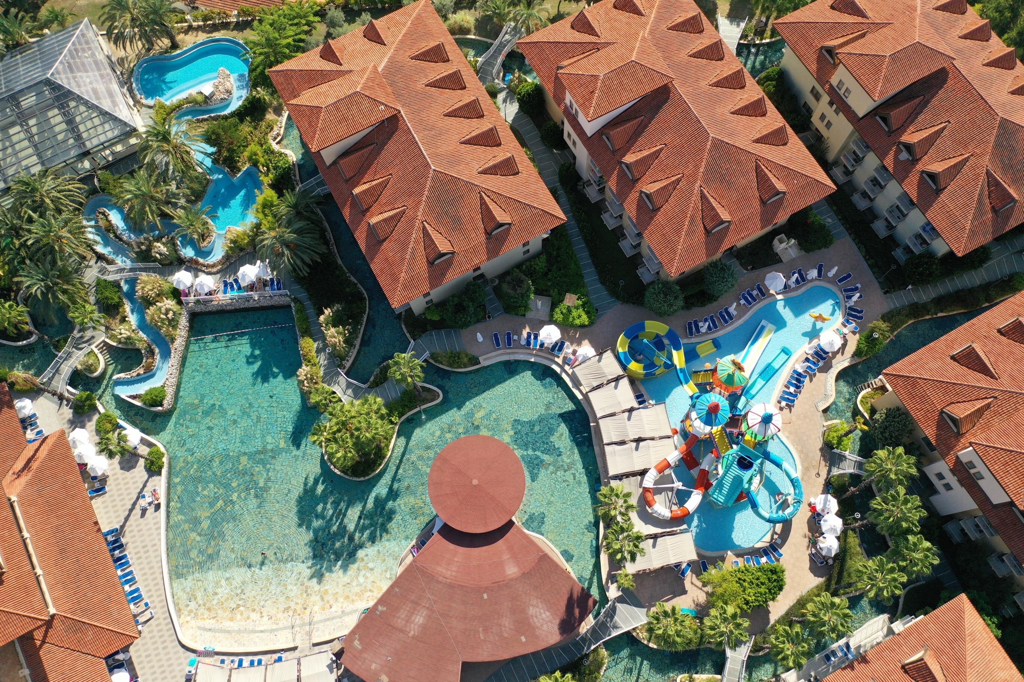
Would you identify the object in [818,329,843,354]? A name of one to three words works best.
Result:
umbrella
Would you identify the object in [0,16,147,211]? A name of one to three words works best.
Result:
building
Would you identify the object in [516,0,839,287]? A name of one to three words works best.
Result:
building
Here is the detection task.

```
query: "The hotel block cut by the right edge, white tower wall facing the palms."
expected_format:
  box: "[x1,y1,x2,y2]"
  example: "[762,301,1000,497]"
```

[870,293,1024,645]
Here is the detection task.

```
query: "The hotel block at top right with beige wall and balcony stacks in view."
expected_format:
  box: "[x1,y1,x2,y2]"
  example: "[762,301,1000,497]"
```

[777,0,1024,268]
